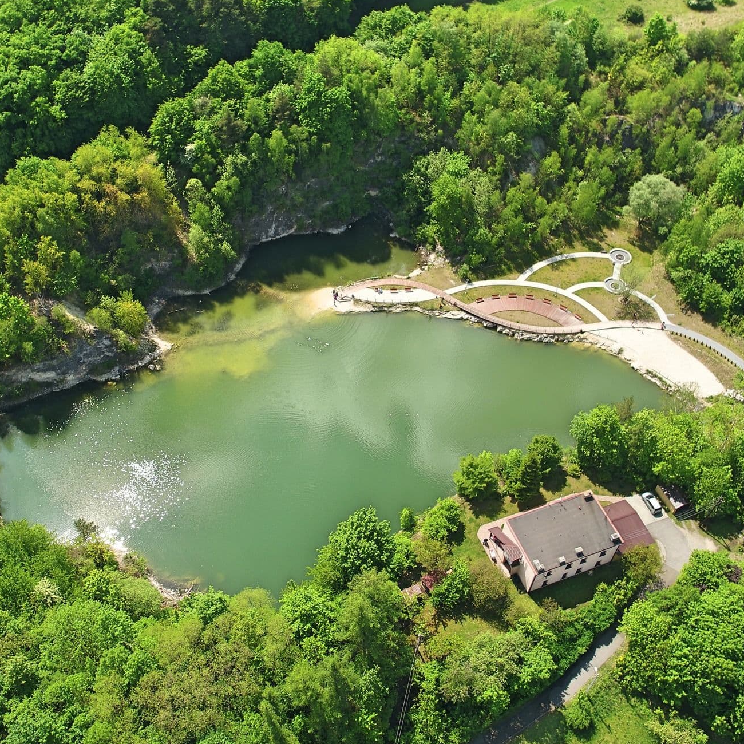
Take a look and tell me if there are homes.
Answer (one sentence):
Yes, you can see a home in this photo.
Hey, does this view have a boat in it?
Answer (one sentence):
No, I can't see a single boat in this photo.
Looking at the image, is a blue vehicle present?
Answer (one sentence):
No, there is no blue vehicle in the image.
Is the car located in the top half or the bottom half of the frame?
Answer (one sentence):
The car is in the bottom half of the image.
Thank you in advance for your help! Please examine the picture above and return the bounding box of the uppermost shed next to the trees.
[652,481,689,517]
